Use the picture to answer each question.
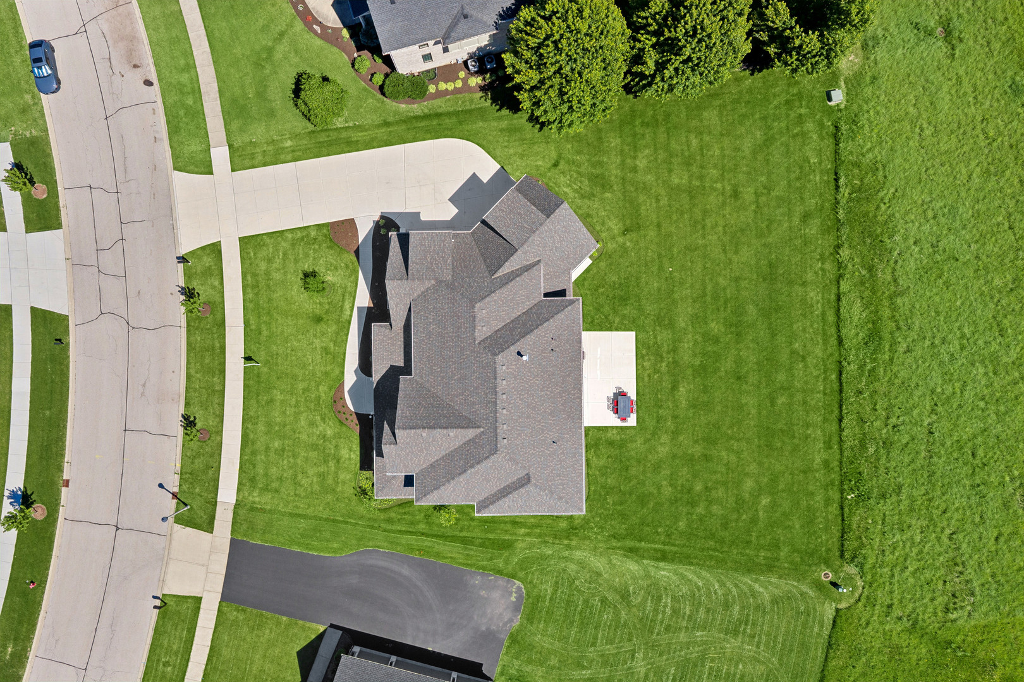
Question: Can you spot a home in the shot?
Yes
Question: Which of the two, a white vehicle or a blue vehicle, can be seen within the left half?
blue vehicle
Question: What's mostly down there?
grass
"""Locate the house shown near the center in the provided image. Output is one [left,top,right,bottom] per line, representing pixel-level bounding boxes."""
[372,173,599,517]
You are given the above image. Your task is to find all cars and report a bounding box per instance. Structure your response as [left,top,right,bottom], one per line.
[28,38,62,95]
